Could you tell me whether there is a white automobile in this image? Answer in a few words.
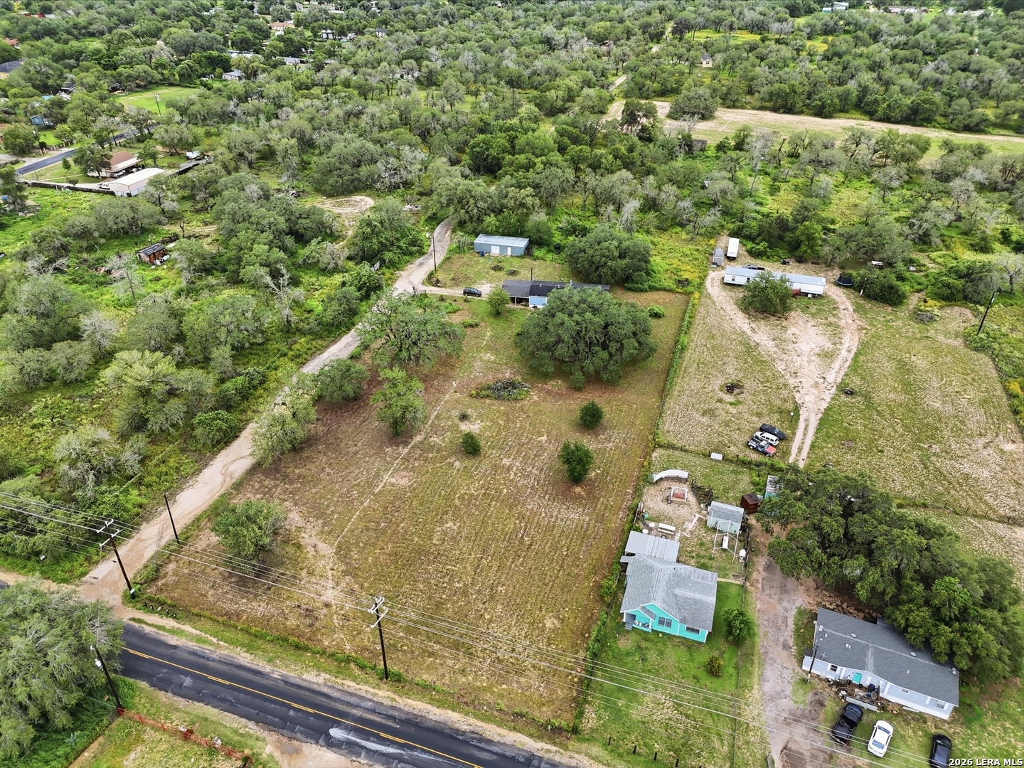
Yes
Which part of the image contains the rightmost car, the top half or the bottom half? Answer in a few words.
bottom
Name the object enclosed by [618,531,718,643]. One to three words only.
house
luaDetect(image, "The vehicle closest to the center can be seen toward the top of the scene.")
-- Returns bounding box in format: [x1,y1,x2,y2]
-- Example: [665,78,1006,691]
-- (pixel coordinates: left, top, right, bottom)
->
[461,286,483,298]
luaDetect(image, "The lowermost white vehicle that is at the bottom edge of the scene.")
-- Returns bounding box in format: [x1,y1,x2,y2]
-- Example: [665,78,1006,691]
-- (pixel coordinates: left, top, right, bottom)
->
[867,718,893,761]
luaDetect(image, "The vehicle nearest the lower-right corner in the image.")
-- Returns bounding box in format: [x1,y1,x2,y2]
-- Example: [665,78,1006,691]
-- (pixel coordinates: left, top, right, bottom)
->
[927,731,955,768]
